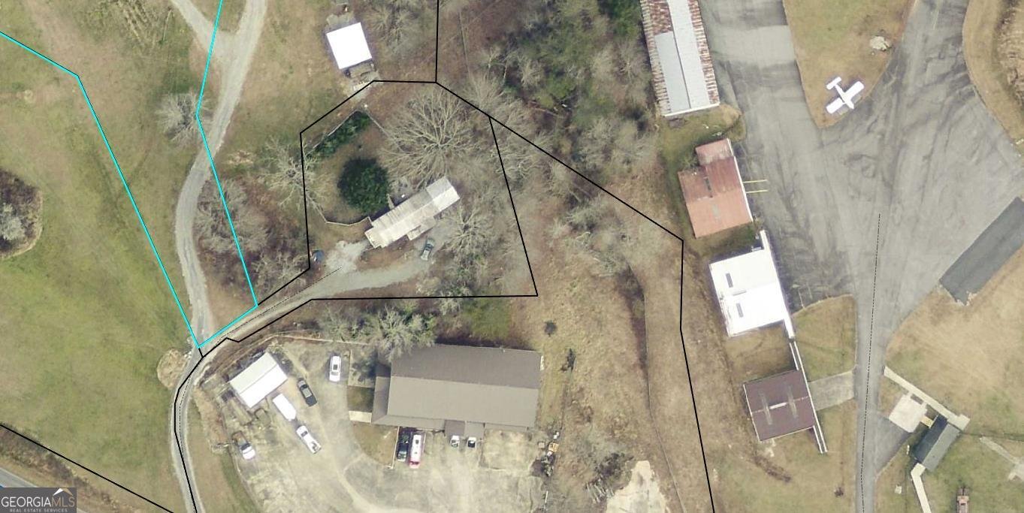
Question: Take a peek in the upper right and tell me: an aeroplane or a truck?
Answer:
aeroplane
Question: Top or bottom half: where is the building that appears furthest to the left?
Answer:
bottom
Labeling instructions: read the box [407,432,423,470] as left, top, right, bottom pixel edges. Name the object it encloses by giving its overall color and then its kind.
white camper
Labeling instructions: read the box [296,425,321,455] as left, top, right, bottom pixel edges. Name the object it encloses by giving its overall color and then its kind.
white truck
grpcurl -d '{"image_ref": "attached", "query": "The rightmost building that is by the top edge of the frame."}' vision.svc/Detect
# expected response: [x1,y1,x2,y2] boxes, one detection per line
[639,0,720,117]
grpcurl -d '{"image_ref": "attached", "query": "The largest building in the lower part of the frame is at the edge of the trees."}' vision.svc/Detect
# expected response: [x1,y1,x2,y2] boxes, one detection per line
[372,344,542,439]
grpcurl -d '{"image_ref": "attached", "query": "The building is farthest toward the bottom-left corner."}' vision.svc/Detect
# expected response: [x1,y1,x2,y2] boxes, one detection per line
[230,353,287,408]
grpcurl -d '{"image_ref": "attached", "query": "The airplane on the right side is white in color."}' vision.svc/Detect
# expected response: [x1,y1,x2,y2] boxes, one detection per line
[827,76,864,111]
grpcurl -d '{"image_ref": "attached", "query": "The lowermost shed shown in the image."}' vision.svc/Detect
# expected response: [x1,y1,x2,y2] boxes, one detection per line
[910,416,959,470]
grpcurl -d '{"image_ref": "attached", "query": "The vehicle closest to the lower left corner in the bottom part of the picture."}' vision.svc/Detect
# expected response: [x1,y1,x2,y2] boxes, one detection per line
[232,429,256,462]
